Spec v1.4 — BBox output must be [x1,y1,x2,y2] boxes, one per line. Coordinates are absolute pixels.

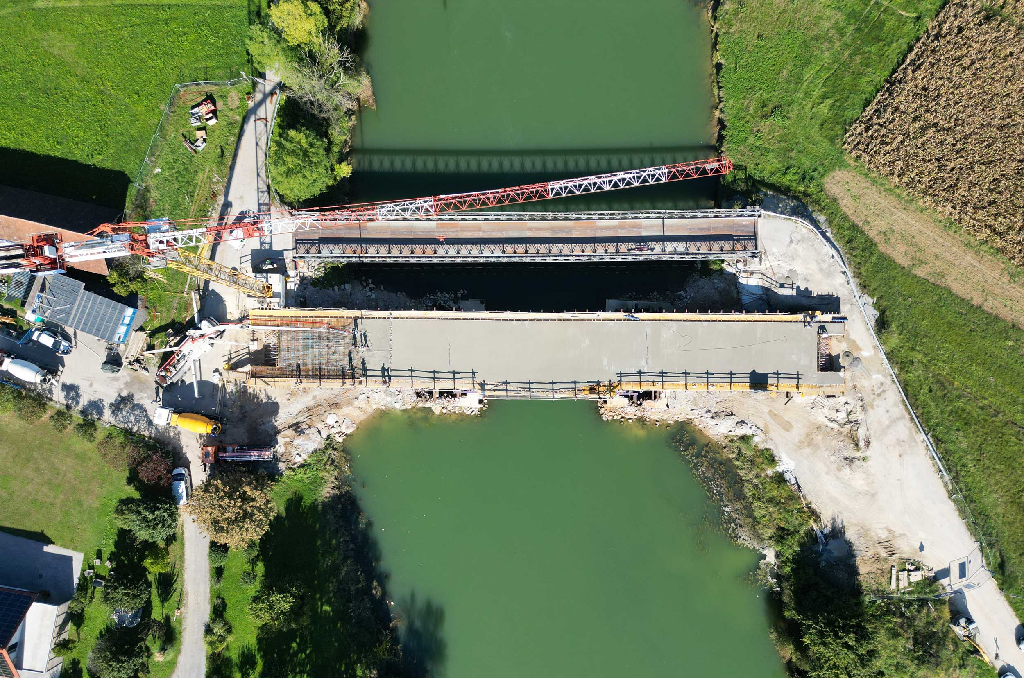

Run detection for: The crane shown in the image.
[0,155,739,309]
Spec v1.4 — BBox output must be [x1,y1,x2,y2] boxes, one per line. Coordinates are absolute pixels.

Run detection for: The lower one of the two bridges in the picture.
[225,299,845,411]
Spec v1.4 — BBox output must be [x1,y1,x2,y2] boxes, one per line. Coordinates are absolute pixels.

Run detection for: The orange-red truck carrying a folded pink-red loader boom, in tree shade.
[200,435,277,469]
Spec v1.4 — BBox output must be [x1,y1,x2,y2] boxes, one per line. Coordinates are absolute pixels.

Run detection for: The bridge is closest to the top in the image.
[291,209,766,265]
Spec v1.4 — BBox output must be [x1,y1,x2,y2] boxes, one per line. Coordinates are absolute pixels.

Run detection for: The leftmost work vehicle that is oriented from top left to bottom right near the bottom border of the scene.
[948,608,993,664]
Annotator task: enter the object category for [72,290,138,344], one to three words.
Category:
shed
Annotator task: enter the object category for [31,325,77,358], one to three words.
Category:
car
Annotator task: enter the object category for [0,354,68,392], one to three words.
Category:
truck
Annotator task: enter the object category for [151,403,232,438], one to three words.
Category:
truck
